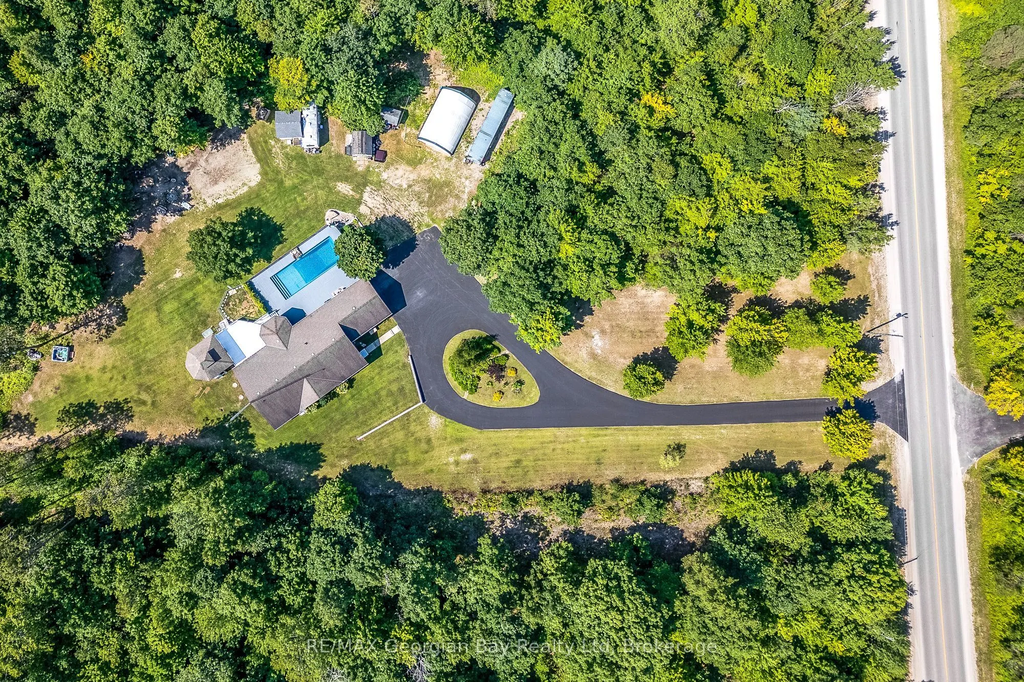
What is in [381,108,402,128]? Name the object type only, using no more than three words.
shed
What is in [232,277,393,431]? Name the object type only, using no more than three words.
house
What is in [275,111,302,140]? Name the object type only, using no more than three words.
shed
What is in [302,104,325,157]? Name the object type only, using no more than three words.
vehicle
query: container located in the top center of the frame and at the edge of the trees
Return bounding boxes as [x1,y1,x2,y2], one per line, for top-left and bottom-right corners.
[467,89,514,165]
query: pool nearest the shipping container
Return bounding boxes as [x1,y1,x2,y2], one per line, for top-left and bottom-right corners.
[268,234,341,303]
